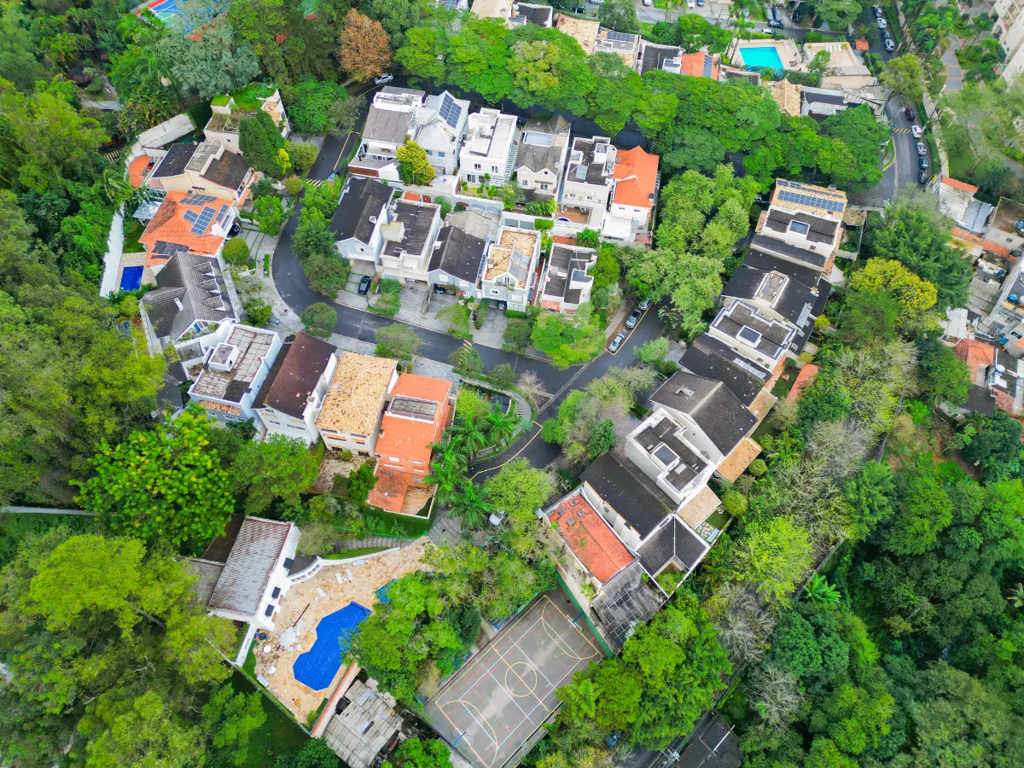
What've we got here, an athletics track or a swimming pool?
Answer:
swimming pool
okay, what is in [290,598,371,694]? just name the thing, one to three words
swimming pool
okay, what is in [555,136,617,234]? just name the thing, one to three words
house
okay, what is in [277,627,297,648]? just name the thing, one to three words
umbrella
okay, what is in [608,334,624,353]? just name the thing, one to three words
car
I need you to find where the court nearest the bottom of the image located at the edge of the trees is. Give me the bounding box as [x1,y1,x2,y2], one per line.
[435,596,598,768]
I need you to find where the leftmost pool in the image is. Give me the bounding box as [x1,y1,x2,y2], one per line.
[118,264,145,293]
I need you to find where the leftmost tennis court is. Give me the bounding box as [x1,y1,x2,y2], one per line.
[145,0,240,37]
